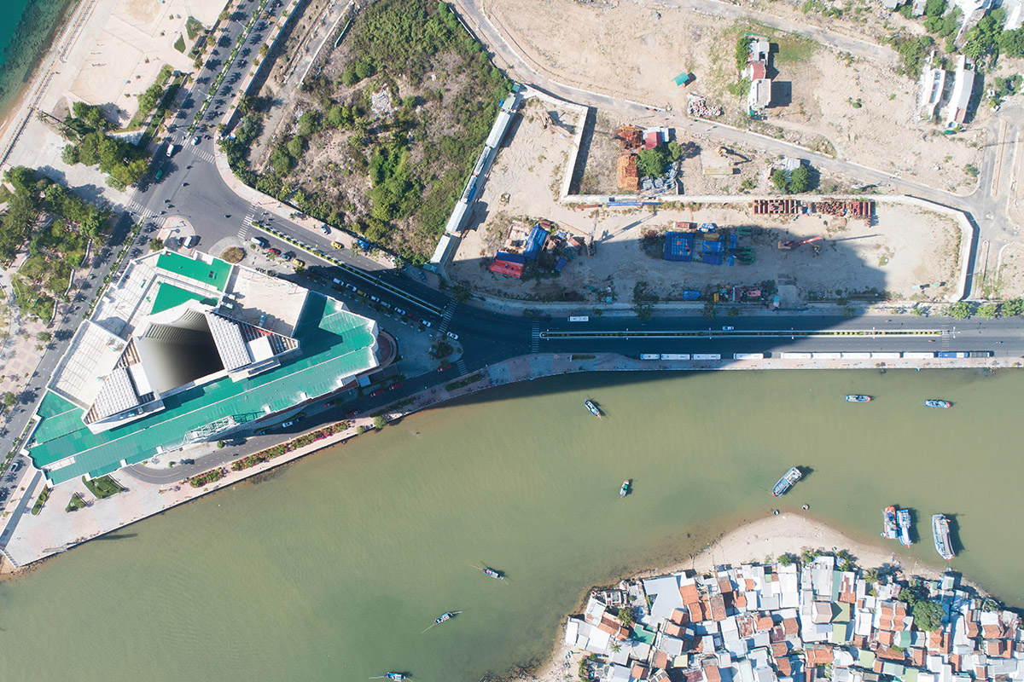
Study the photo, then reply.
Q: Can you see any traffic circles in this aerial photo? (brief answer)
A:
No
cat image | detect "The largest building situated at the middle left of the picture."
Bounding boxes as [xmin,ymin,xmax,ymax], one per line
[17,245,400,490]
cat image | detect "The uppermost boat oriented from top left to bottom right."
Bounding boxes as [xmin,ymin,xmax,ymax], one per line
[583,399,601,418]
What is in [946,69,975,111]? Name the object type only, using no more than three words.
house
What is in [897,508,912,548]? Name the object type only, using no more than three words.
boat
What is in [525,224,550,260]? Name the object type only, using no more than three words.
shed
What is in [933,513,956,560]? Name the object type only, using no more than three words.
boat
